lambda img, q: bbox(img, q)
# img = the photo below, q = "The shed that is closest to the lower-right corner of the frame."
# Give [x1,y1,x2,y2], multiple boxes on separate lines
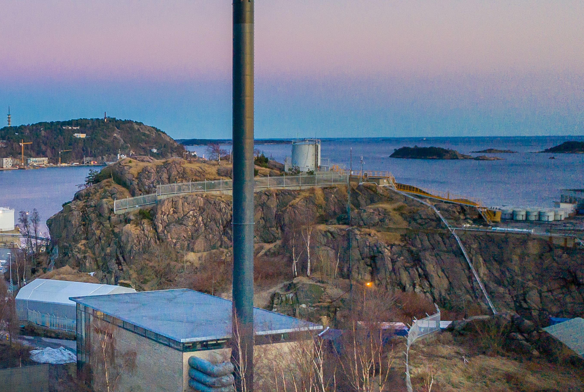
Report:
[543,316,584,359]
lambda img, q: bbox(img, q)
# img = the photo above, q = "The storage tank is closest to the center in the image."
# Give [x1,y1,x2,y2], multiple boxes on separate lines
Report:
[291,138,323,169]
